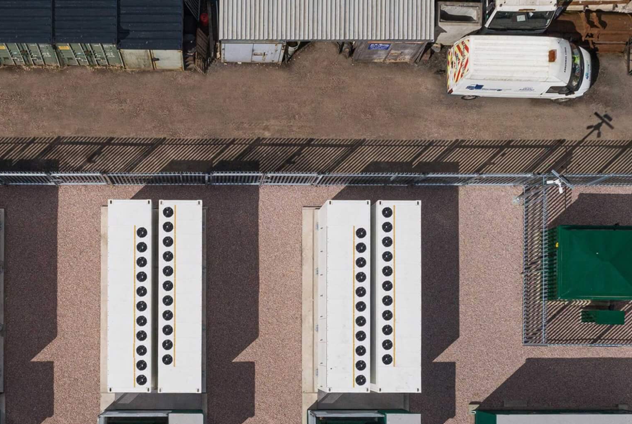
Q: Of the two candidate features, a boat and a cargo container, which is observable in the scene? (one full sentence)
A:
Of the two, only a cargo container appears.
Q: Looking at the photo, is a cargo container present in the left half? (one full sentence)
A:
Yes, the scene does show a cargo container in the left half.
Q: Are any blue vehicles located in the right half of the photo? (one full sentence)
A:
No, there is no blue vehicle in the right half of the photo.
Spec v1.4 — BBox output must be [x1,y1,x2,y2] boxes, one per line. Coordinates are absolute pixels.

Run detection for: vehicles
[472,0,565,35]
[448,34,590,102]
